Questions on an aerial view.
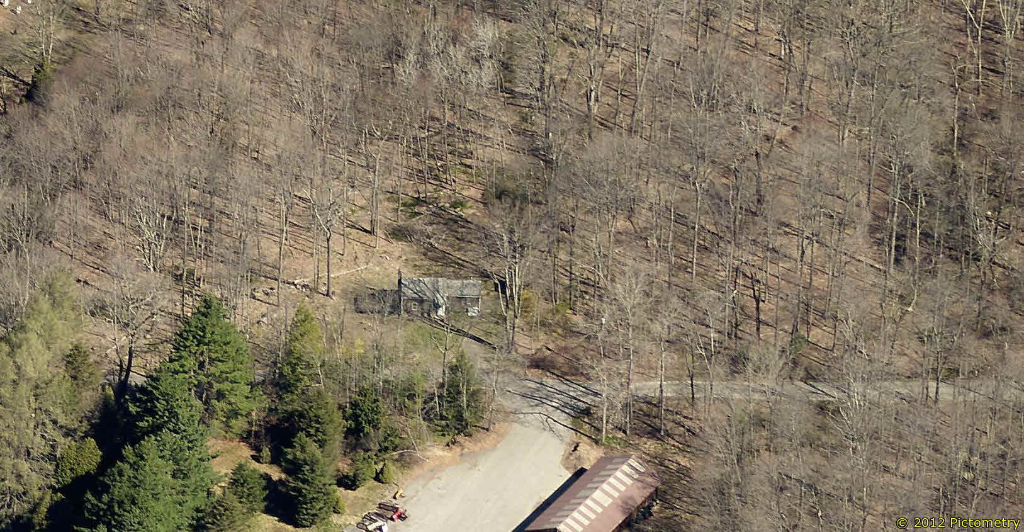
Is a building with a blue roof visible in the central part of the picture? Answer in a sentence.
No, no building with a blue roof appears in the central part of the picture.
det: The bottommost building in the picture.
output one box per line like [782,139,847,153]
[526,452,662,532]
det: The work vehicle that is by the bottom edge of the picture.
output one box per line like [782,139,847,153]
[390,507,410,522]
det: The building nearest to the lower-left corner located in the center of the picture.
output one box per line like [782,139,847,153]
[395,273,483,322]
